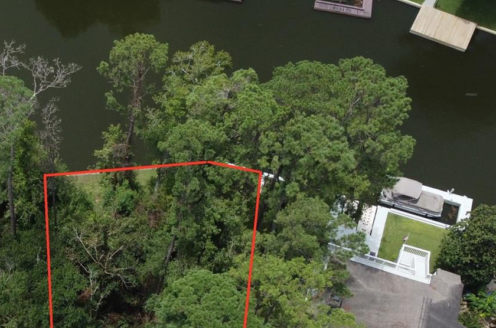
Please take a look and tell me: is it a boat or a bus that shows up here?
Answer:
boat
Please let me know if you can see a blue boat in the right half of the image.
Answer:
No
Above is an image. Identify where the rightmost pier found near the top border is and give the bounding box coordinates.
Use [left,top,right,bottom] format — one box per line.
[409,4,477,57]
